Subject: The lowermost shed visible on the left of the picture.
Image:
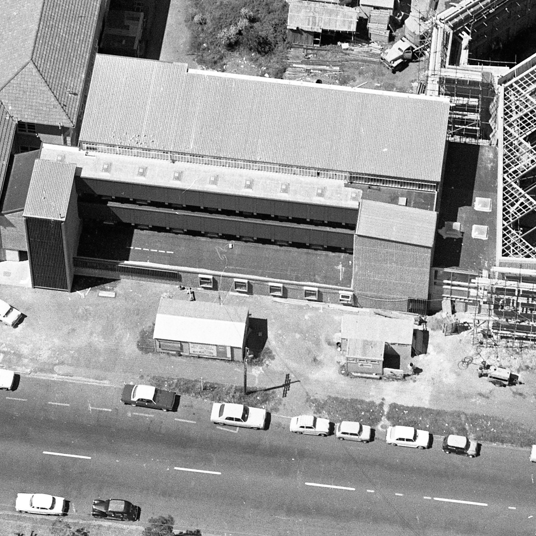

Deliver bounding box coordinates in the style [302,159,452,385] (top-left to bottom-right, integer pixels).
[154,295,251,363]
